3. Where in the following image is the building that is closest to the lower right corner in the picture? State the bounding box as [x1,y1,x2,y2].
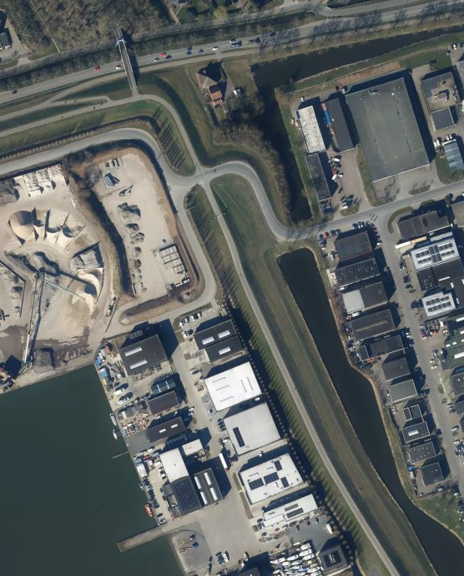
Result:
[421,462,444,487]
